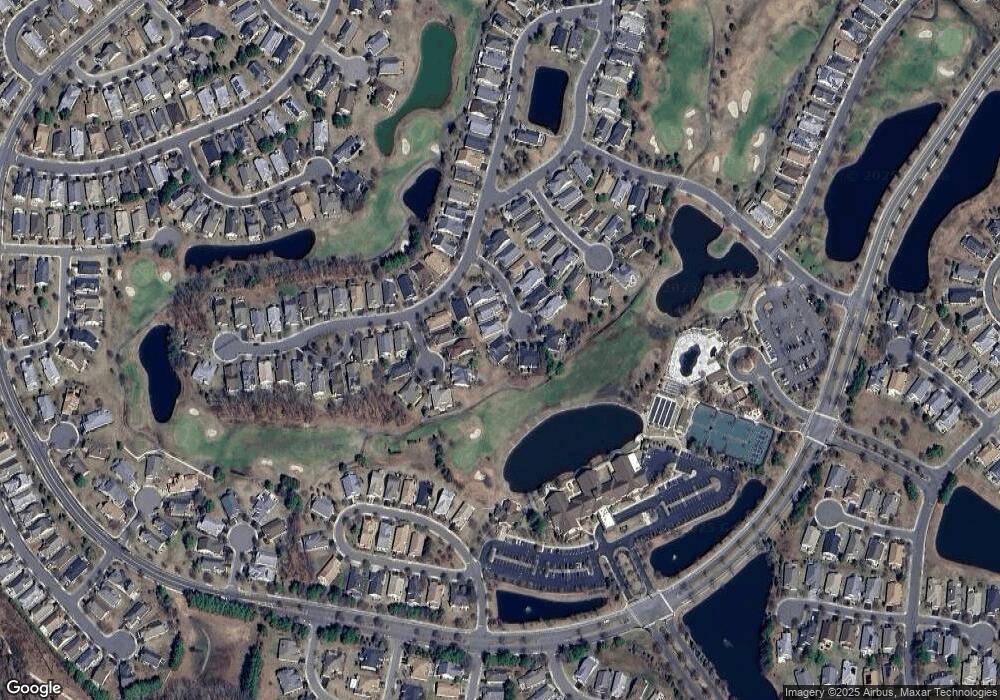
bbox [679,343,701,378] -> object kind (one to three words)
swimming pool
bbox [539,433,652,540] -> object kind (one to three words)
building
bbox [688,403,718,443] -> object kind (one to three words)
tennis court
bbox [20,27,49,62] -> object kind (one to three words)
house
